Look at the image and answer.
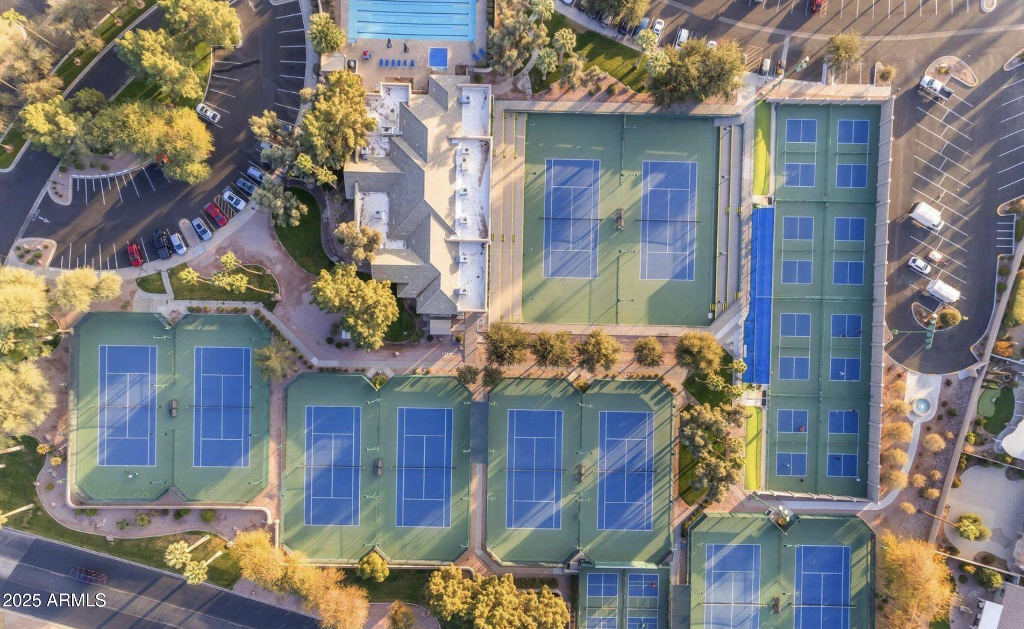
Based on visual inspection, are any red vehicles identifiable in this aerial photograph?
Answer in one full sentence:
Yes, you can see a red vehicle in this photo.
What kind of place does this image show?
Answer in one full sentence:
This looks like a sports ground.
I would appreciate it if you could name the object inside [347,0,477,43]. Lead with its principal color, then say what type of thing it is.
blue swimming pool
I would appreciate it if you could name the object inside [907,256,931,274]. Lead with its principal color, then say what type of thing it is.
white car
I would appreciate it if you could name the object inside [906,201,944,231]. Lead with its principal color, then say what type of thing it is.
white truck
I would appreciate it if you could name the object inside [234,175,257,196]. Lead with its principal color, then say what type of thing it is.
blue car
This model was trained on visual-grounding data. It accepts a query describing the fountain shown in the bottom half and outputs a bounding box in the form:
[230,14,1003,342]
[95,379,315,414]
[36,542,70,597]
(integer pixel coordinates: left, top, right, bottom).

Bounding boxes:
[911,396,932,418]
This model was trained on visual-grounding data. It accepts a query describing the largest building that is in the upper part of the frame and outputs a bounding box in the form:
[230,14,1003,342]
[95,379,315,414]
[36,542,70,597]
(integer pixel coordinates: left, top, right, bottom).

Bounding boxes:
[343,75,493,314]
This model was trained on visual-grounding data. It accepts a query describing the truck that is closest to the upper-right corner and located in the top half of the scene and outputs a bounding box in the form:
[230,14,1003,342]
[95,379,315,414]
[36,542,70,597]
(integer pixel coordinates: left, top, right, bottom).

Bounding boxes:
[920,78,953,100]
